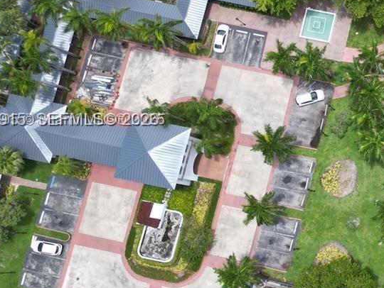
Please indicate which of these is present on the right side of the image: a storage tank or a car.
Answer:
car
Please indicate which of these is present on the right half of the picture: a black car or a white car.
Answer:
white car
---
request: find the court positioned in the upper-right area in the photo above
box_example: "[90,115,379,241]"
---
[300,10,335,42]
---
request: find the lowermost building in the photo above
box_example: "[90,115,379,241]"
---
[138,200,171,228]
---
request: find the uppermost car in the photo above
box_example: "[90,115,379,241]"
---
[214,27,231,54]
